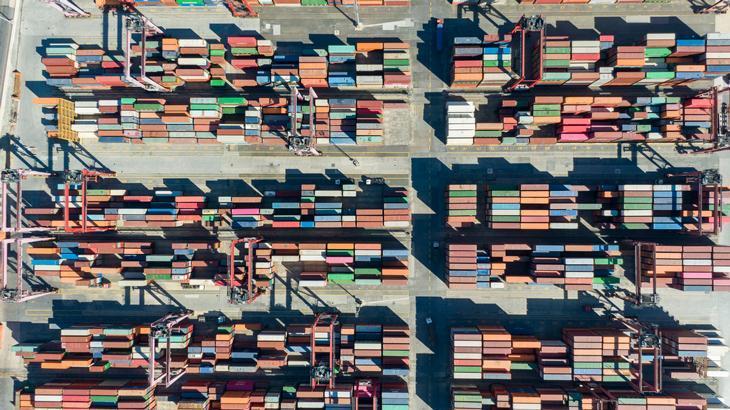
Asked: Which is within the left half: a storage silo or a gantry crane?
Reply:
gantry crane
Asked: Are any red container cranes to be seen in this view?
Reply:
Yes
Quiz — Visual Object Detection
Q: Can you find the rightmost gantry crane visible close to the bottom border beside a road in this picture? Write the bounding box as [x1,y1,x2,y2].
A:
[603,313,662,393]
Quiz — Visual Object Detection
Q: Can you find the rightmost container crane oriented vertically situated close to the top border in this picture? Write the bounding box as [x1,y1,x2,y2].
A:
[498,14,545,100]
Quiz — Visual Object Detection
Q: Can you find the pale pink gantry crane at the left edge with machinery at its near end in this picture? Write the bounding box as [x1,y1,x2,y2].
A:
[0,231,66,304]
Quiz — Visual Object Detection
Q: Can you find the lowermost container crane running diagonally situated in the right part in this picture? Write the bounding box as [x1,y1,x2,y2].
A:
[565,379,620,410]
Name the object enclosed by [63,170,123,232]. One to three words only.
container crane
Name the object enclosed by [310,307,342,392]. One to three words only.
container crane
